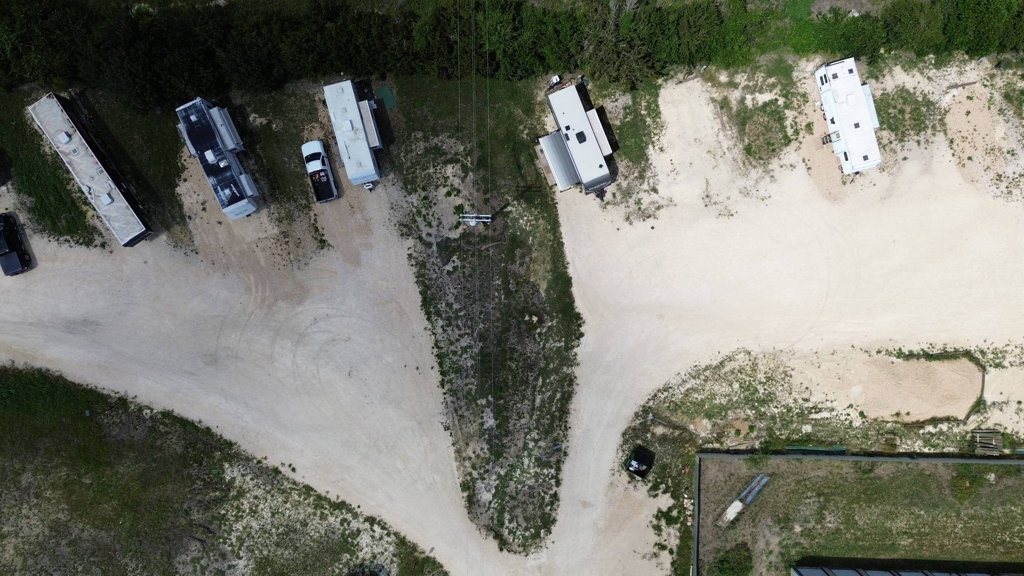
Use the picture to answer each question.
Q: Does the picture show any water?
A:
No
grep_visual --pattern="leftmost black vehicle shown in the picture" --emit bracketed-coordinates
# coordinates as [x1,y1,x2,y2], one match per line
[0,206,28,276]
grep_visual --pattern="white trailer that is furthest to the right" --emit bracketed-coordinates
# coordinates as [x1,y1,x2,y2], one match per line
[814,57,881,177]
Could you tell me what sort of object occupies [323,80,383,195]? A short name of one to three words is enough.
trailer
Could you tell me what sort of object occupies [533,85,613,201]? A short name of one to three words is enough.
trailer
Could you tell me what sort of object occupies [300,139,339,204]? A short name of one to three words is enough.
truck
